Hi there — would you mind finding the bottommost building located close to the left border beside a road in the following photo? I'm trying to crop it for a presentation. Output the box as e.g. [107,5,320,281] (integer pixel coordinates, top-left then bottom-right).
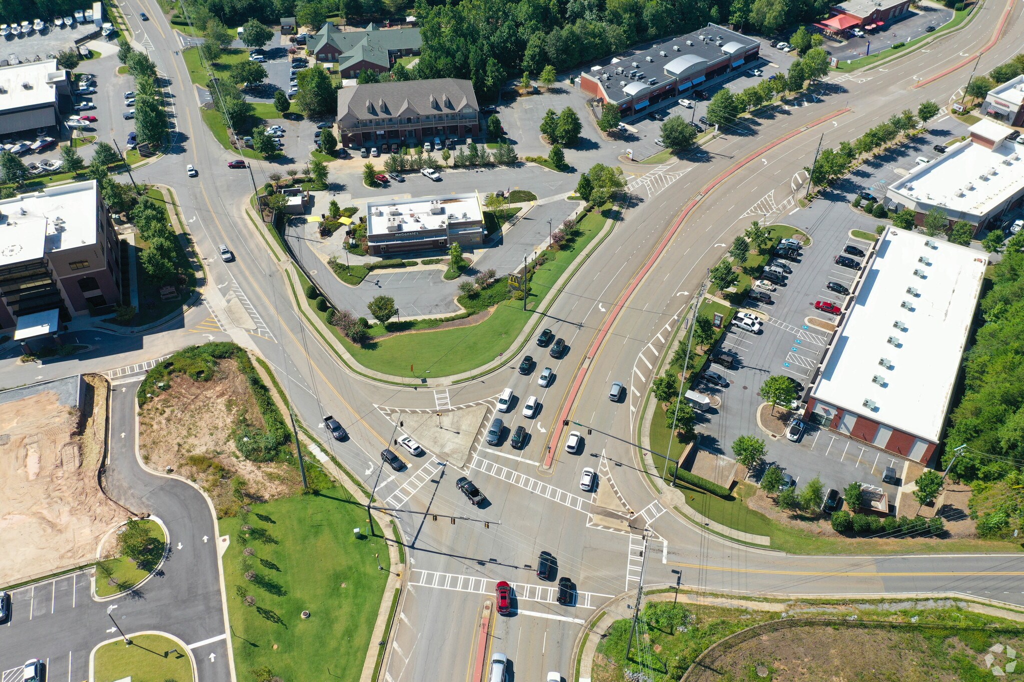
[0,180,122,328]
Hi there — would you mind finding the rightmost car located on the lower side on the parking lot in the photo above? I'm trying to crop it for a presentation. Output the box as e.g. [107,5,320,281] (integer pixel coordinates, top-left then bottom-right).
[881,462,898,489]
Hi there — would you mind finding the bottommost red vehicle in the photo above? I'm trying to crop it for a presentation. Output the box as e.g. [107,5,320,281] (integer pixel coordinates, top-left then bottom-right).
[496,581,511,613]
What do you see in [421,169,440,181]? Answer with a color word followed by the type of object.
white vehicle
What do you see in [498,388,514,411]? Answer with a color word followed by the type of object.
white car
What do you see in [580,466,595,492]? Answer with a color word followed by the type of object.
white car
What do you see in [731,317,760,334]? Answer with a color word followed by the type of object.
white vehicle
